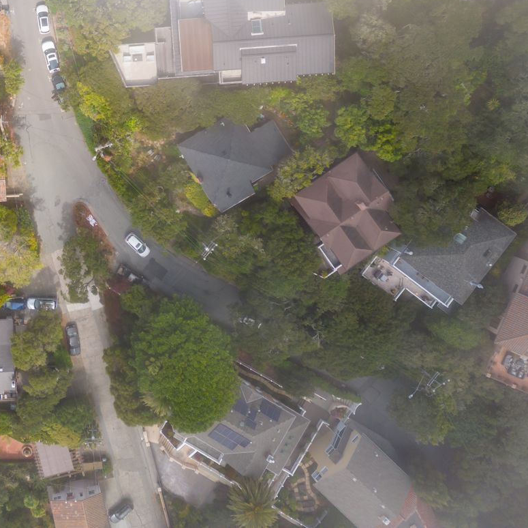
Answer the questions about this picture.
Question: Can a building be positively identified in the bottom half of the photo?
Yes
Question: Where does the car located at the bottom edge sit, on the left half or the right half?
left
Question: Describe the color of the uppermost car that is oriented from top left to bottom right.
white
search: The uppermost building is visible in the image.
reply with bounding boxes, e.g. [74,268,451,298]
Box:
[110,0,335,88]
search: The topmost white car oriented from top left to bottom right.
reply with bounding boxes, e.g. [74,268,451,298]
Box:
[123,231,151,259]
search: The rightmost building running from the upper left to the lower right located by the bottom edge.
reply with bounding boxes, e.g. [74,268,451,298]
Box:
[293,406,436,528]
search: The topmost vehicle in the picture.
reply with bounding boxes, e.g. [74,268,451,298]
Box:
[35,3,51,35]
